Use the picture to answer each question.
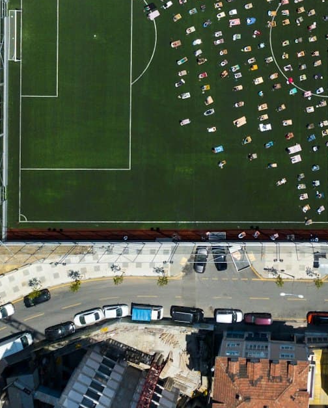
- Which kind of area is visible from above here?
sports ground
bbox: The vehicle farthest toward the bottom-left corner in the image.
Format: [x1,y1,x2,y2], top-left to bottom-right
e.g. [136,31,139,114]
[0,330,37,362]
